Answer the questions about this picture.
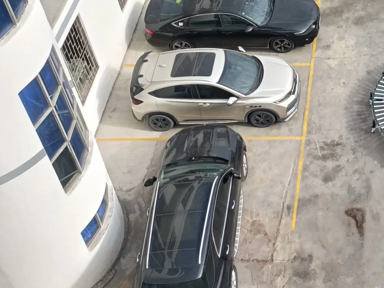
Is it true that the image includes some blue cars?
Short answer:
No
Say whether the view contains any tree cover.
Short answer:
No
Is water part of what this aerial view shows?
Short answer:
No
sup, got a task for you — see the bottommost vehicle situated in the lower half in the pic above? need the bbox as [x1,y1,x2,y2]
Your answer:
[132,125,249,288]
